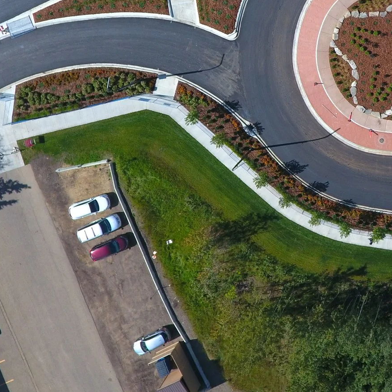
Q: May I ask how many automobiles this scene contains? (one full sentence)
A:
The count of automobiles comes to 4.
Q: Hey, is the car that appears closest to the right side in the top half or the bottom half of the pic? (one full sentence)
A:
The car that appears closest to the right side sits in the bottom half of the picture.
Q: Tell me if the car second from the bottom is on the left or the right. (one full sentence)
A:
The car second from the bottom is on the left side of the image.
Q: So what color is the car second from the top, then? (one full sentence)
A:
The car second from the top looks white in the image.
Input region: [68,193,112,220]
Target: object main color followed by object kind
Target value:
white car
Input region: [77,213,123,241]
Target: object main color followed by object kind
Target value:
white car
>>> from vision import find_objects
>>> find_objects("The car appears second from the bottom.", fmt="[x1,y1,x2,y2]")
[88,233,131,262]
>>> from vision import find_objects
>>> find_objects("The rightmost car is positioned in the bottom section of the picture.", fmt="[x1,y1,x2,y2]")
[132,328,172,355]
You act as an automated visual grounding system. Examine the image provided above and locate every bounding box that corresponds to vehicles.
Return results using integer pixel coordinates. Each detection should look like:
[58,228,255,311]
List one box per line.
[132,328,172,355]
[68,193,112,220]
[88,233,131,262]
[77,213,123,241]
